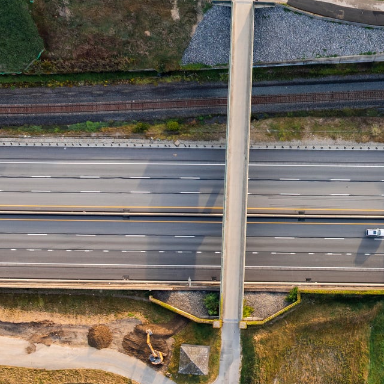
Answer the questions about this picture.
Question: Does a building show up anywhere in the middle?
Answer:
No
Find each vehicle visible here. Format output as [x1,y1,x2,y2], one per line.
[144,329,163,369]
[366,228,384,237]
